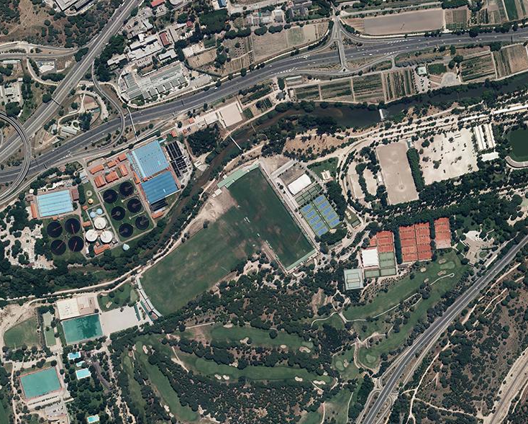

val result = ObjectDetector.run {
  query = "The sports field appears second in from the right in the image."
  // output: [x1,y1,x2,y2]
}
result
[62,314,102,344]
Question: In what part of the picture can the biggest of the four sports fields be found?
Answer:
center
